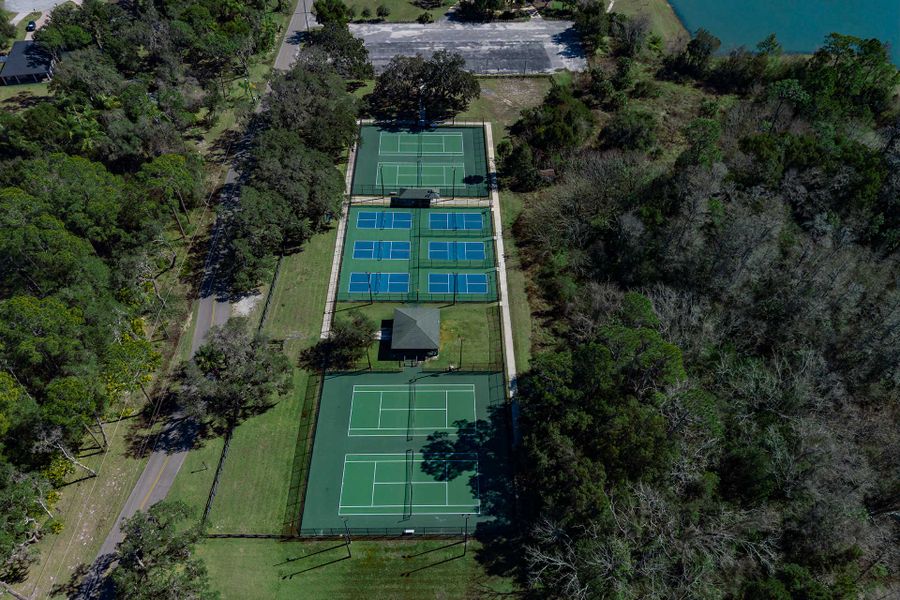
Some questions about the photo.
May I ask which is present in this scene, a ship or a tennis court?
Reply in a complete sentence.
I can see a tennis court in this picture.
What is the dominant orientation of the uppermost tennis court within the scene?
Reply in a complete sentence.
I'd say the uppermost tennis court is aligned from left to right in the picture.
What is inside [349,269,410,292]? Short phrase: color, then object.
blue sports court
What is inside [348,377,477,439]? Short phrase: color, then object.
green tennis court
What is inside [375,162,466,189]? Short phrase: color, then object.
green tennis court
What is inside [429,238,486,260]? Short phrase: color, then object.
blue sports court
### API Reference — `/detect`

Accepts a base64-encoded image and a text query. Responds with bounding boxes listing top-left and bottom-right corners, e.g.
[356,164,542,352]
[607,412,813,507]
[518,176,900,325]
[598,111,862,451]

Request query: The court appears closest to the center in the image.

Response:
[429,273,489,293]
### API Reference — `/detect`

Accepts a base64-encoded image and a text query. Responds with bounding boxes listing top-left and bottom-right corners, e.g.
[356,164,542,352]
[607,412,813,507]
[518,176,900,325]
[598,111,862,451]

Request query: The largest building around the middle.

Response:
[392,308,439,356]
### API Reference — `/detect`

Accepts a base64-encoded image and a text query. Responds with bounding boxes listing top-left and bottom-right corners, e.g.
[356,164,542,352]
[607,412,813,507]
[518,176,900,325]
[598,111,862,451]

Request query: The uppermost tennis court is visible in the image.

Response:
[379,133,463,155]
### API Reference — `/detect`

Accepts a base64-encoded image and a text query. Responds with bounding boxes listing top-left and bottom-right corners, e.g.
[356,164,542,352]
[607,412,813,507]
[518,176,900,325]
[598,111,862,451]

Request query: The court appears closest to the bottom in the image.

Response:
[338,448,481,519]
